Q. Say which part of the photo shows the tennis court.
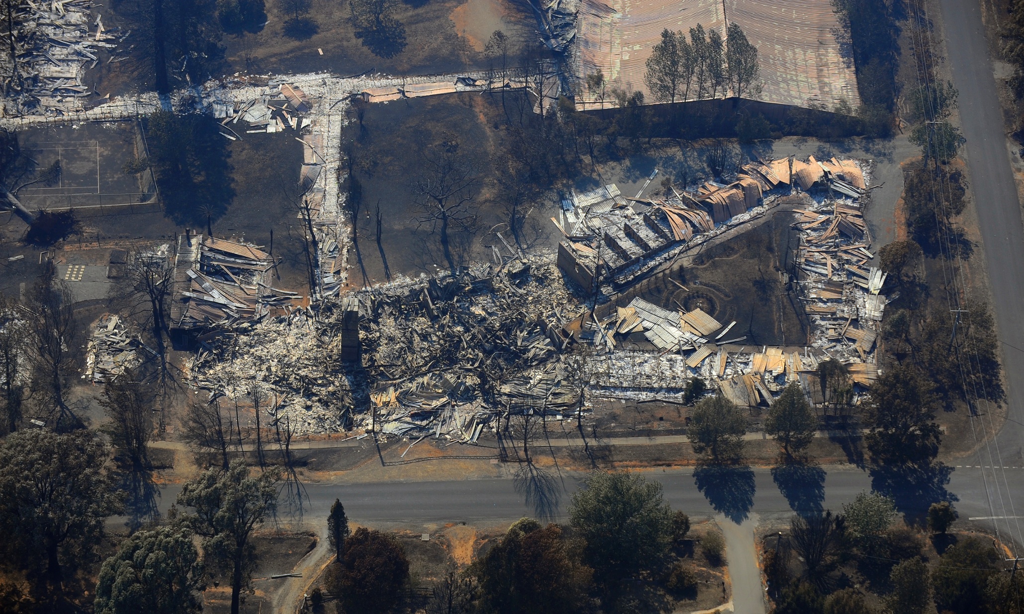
top left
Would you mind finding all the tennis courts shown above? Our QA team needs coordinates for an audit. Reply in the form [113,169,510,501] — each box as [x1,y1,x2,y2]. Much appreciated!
[0,130,144,204]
